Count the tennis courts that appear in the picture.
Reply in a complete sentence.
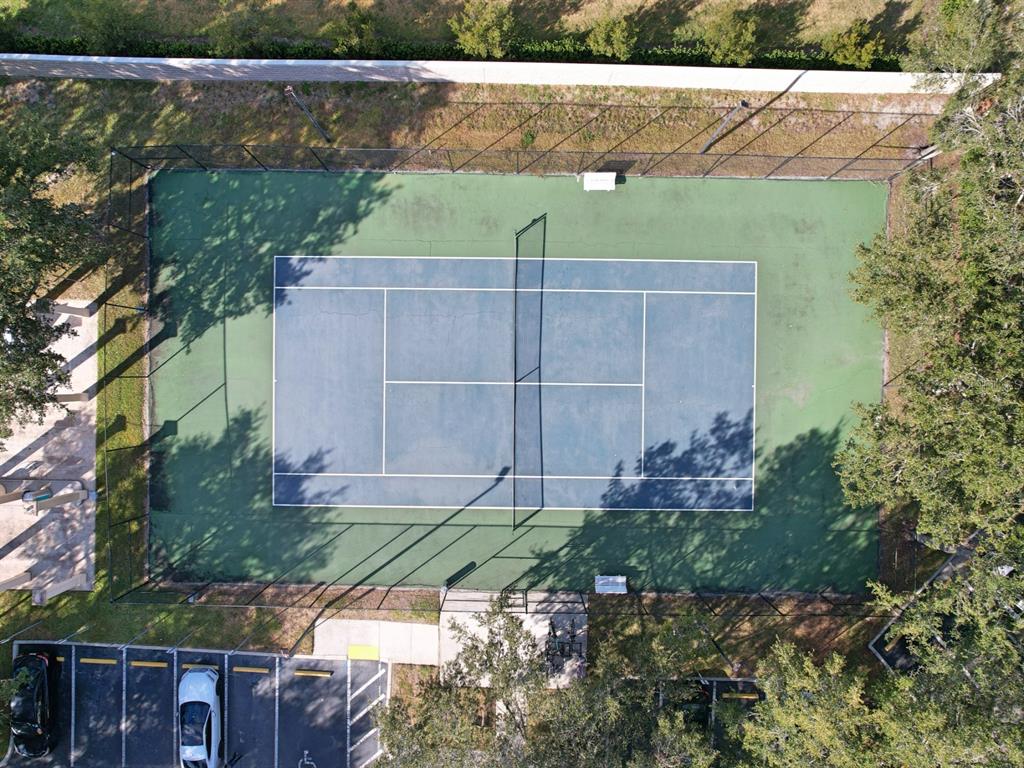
I count 1 tennis court.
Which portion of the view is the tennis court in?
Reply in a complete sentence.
Look in the center portion of the view to spot the tennis court.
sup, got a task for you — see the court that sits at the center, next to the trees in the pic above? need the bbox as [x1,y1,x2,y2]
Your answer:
[145,166,891,600]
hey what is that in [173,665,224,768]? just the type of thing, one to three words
car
